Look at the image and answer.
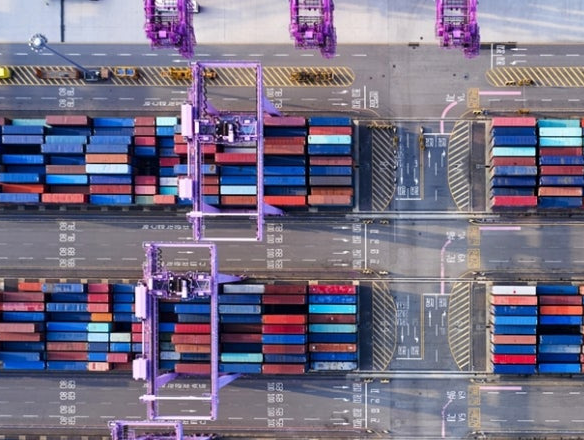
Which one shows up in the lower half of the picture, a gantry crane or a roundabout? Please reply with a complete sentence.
What appears in the lower half of the picture is a gantry crane.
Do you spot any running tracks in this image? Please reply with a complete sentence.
No, there isn't any running track down there.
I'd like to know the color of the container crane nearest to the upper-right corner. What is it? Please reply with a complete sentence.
From above, the container crane nearest to the upper-right corner appears purple.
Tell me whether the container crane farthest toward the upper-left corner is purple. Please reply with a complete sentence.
Yes, the container crane farthest toward the upper-left corner is purple.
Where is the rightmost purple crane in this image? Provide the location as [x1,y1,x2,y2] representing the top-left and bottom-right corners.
[433,0,481,62]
